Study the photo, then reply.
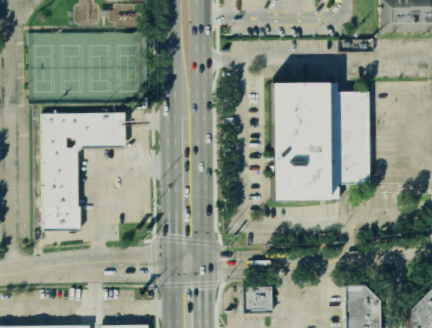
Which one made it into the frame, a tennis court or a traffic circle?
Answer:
tennis court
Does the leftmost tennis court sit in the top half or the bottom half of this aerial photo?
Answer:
top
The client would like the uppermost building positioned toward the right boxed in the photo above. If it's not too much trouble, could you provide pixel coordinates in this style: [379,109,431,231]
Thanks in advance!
[378,0,432,34]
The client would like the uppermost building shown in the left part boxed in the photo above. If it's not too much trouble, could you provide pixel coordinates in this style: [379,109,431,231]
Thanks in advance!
[38,111,126,230]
